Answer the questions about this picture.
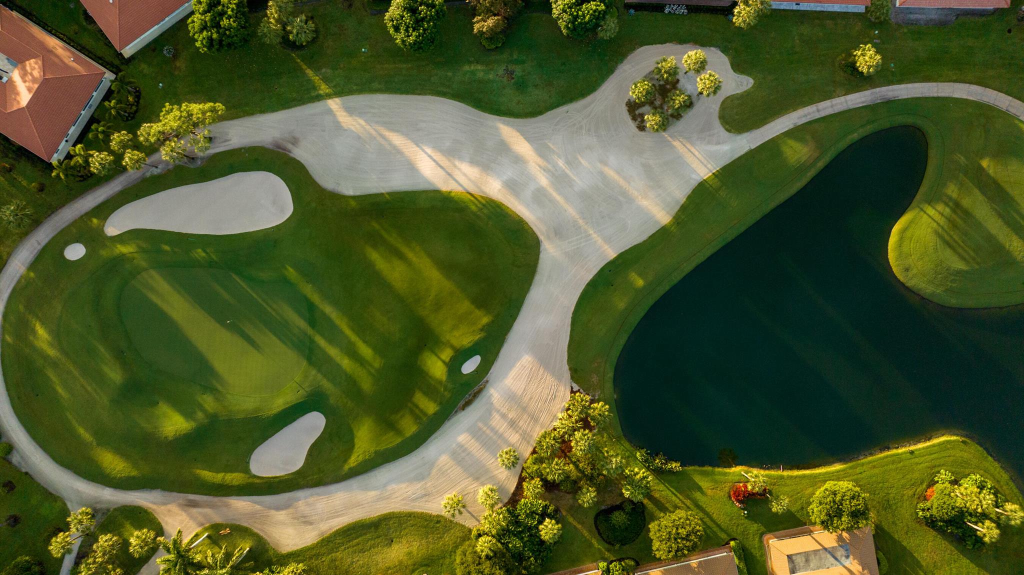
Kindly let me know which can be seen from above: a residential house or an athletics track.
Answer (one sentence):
There is a residential house in the scene.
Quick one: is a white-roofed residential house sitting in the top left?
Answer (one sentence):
No, I can find no white-roofed residential house in the top left.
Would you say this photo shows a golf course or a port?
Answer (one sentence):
It's a golf course.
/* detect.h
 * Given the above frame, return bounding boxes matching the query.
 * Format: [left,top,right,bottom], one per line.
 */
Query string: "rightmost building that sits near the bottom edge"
[765,522,879,575]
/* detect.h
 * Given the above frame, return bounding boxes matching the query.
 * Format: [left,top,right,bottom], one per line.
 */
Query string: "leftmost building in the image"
[0,7,112,162]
